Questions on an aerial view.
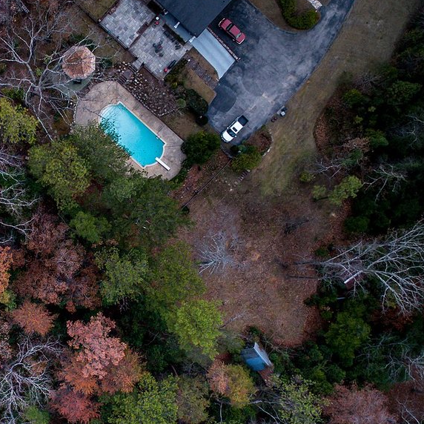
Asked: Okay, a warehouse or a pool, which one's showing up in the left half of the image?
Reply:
pool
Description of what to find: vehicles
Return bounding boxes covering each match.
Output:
[217,17,246,44]
[220,114,250,145]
